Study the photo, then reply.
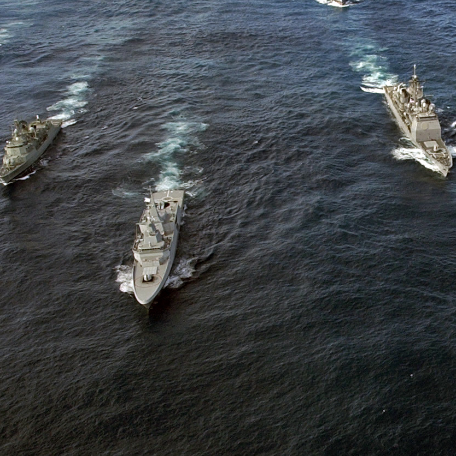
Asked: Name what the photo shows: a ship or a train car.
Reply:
ship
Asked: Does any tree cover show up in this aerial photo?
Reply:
No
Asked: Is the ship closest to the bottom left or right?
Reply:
left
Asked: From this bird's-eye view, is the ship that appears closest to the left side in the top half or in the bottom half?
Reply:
top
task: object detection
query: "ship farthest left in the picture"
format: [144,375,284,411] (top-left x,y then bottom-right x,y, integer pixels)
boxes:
[0,117,66,185]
